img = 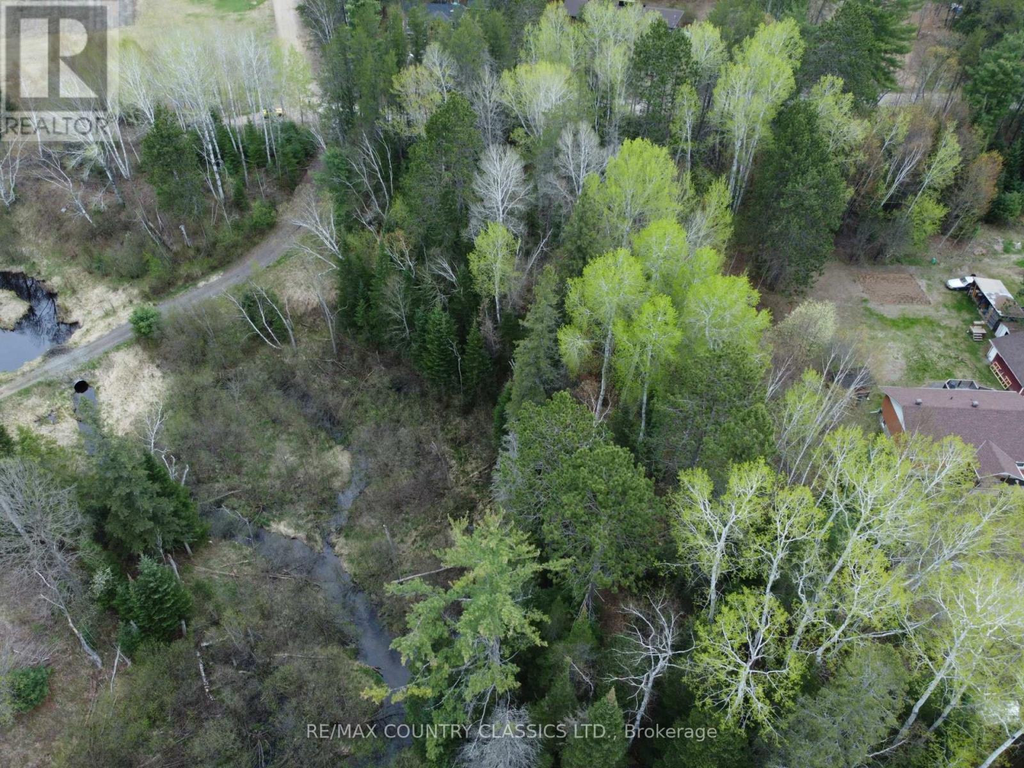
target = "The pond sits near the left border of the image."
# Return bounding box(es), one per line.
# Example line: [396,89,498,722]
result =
[0,270,80,369]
